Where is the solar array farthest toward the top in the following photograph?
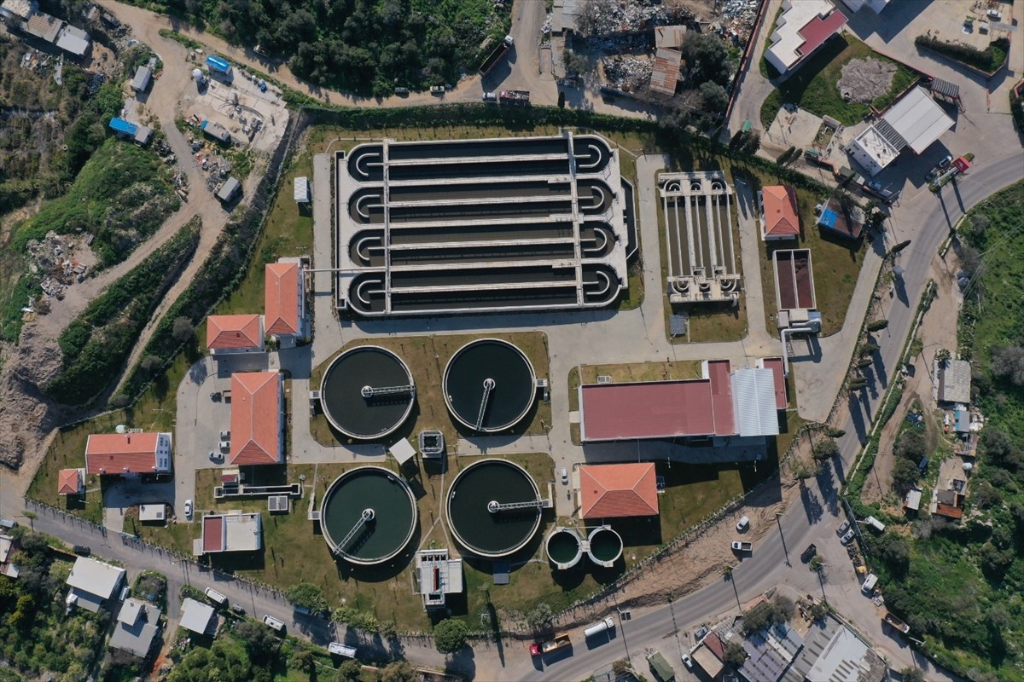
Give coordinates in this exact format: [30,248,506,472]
[670,315,685,334]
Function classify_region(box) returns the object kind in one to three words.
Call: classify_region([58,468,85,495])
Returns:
house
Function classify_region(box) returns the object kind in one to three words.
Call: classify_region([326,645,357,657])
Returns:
vehicle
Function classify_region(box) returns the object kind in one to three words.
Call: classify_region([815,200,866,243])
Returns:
building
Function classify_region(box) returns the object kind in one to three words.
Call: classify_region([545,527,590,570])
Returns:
storage tank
